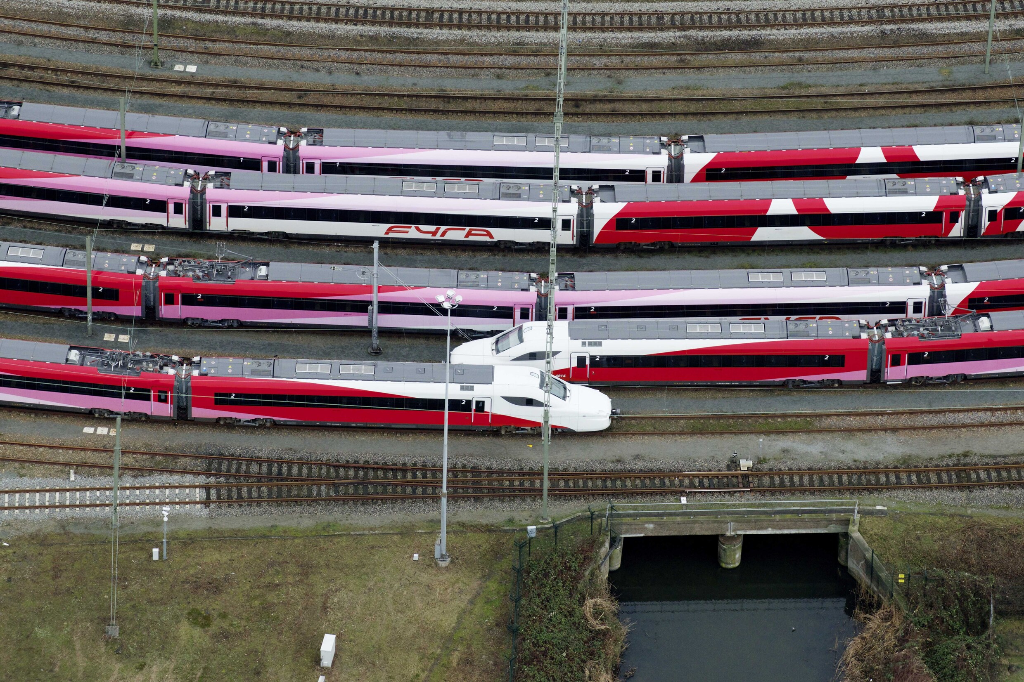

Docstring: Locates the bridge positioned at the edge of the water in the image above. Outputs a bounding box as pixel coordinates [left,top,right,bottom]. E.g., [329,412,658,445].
[605,507,858,562]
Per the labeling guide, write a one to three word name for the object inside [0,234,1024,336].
train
